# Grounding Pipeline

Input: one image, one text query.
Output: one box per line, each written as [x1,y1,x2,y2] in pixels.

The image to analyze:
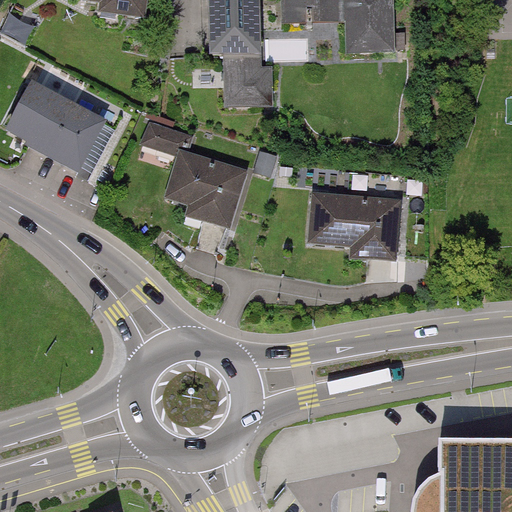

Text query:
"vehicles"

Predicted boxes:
[130,400,143,424]
[184,438,206,450]
[326,364,406,395]
[17,215,39,234]
[414,401,438,425]
[240,410,262,428]
[266,346,291,358]
[38,157,54,178]
[220,357,238,379]
[164,242,186,262]
[77,233,103,254]
[58,176,72,199]
[375,475,386,503]
[414,326,438,338]
[384,407,402,426]
[141,282,165,305]
[88,277,110,300]
[116,317,132,342]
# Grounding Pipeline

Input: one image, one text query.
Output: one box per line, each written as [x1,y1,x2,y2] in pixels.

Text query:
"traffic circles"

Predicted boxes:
[118,326,264,473]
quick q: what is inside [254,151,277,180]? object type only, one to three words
shed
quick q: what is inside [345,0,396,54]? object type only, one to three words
house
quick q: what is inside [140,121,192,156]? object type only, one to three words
house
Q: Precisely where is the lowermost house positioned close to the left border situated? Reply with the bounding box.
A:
[6,79,106,174]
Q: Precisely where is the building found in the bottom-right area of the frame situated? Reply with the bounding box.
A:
[410,437,512,512]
